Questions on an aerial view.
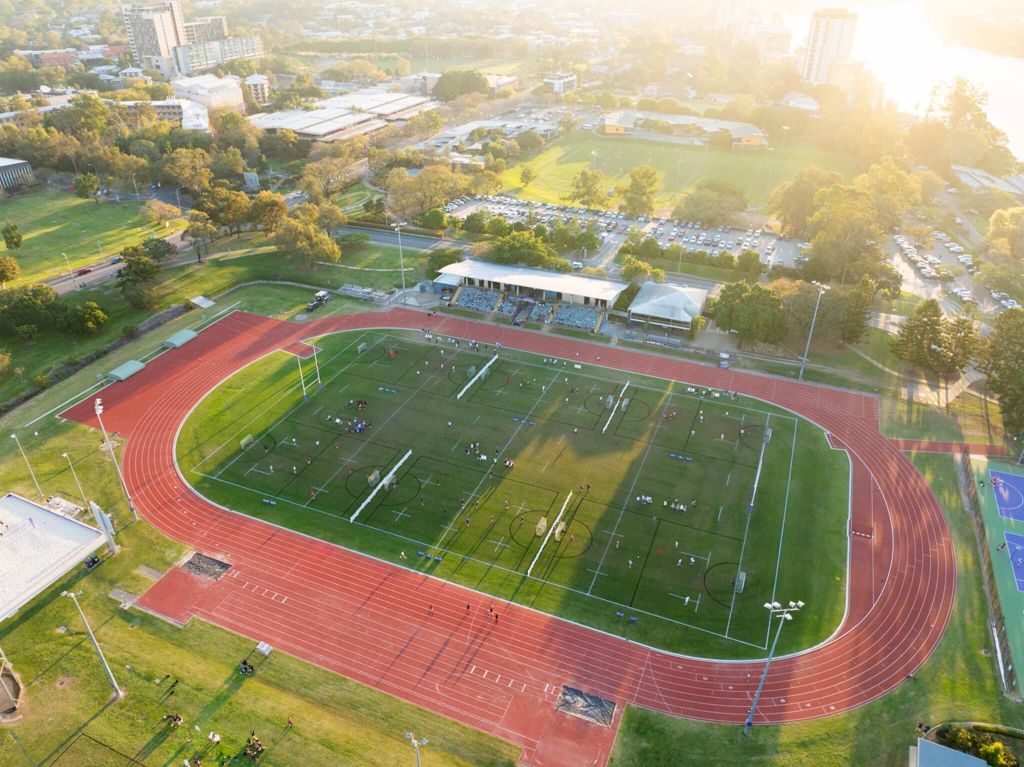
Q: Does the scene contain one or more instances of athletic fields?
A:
Yes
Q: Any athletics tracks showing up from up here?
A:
Yes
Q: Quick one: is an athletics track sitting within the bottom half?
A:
Yes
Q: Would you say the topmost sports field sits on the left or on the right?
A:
right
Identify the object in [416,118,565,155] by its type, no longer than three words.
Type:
building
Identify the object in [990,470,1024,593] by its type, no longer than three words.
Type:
sports court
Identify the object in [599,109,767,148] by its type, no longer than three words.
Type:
building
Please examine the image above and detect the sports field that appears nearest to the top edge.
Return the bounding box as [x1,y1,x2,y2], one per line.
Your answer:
[500,131,850,215]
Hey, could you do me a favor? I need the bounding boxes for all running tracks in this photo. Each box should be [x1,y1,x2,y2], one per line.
[122,312,958,724]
